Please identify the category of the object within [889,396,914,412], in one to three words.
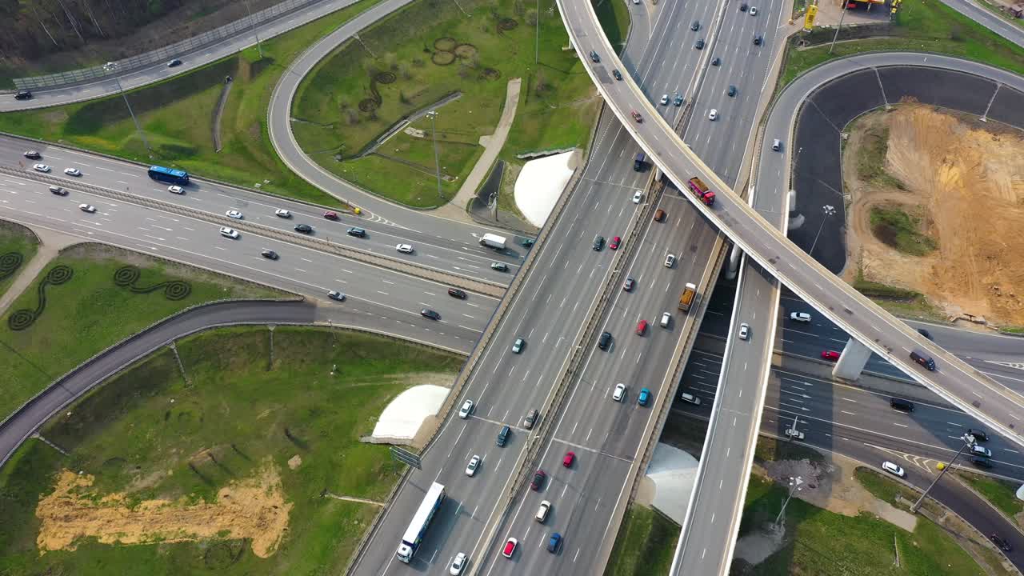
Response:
vehicle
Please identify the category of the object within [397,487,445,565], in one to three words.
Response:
truck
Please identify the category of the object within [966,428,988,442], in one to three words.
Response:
car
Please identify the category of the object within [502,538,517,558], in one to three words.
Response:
car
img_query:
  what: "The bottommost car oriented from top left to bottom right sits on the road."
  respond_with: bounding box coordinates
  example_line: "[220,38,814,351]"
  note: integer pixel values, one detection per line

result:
[990,533,1013,554]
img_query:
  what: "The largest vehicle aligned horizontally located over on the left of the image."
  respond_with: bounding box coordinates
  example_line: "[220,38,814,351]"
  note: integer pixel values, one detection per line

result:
[149,166,187,184]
